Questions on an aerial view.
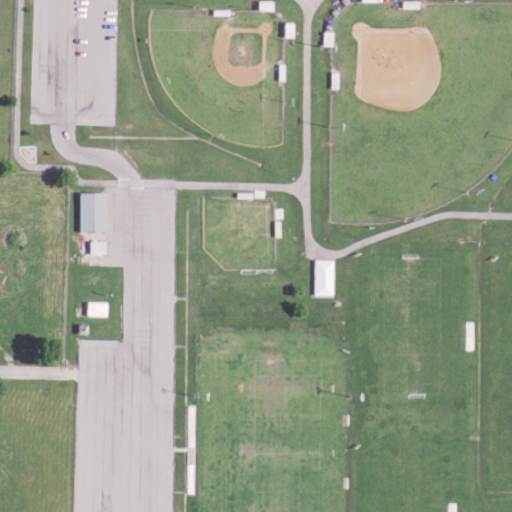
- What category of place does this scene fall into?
sports ground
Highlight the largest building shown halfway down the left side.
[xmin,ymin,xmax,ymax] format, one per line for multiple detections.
[80,193,108,232]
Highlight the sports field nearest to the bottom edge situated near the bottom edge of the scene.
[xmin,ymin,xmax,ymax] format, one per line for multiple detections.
[202,334,342,512]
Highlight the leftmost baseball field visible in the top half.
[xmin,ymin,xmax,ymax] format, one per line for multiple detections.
[148,10,284,148]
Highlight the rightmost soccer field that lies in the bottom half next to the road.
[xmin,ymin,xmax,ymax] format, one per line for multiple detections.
[380,252,444,398]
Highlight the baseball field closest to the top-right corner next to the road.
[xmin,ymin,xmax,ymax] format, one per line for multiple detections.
[332,2,512,224]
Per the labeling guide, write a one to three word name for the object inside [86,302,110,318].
building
